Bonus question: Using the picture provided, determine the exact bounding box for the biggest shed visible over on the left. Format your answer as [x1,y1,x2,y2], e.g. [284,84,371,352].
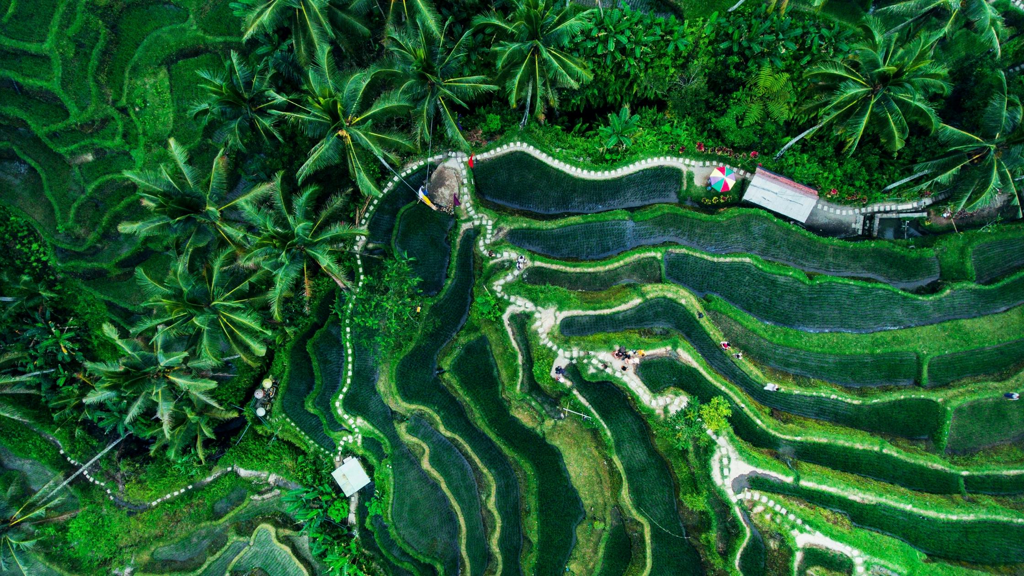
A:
[331,455,371,497]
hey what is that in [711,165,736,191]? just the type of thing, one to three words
umbrella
